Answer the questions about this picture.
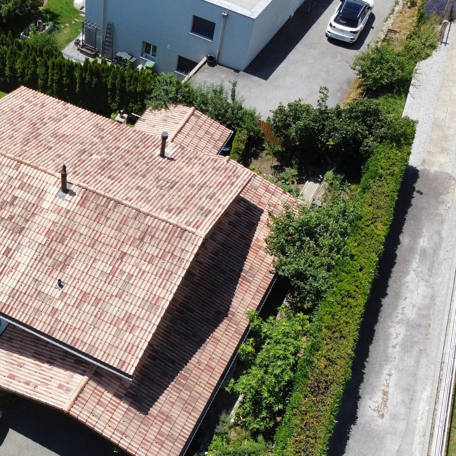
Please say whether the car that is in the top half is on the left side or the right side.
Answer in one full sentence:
You can find the car that is in the top half on the right side of the picture.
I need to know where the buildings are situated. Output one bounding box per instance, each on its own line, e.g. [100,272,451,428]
[0,86,309,456]
[86,0,300,80]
